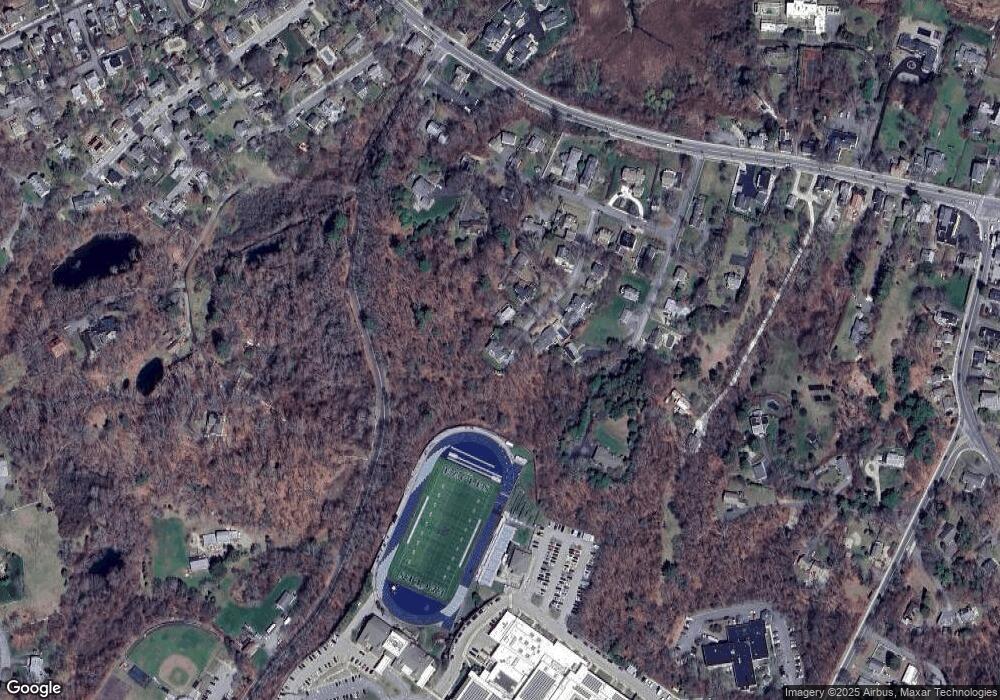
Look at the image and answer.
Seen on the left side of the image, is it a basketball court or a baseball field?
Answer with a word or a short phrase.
baseball field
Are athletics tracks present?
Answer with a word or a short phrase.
Yes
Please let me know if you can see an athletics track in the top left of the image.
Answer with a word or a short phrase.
No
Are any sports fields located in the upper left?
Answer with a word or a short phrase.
No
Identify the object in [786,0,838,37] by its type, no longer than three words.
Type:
building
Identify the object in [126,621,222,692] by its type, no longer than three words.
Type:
baseball field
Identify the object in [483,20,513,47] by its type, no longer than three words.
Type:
house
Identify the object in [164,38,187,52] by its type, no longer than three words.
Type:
swimming pool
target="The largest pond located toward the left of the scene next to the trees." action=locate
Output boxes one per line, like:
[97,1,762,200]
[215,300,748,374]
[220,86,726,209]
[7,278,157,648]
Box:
[51,232,142,289]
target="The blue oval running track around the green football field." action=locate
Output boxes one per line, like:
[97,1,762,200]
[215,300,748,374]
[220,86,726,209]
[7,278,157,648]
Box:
[367,429,521,628]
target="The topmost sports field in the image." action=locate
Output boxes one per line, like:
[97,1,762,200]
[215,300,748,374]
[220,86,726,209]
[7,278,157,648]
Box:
[390,461,499,600]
